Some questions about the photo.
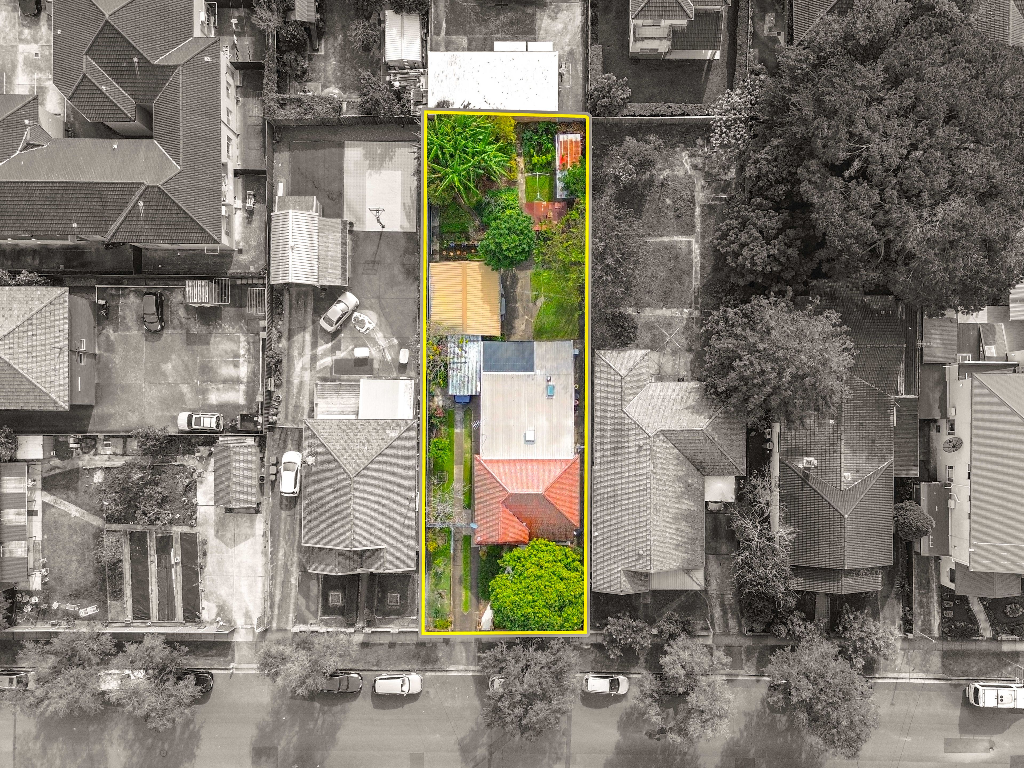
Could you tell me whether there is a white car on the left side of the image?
Yes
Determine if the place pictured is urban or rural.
urban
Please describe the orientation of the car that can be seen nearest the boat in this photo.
at an angle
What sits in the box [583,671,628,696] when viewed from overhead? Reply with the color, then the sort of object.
white car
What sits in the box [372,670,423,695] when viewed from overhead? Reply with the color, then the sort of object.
white car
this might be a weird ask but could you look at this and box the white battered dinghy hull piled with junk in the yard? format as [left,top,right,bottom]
[352,313,374,334]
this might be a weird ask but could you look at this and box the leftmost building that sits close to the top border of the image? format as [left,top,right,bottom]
[0,0,242,250]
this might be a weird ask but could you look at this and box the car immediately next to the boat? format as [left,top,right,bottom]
[316,288,361,338]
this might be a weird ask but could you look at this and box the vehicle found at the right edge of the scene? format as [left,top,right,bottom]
[969,681,1024,711]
